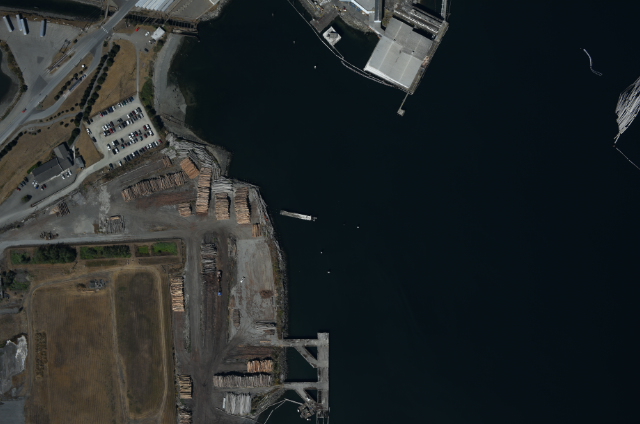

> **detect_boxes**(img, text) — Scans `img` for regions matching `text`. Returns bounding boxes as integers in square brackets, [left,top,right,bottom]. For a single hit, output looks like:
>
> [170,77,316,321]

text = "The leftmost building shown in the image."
[31,144,73,185]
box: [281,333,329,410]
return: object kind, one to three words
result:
pier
